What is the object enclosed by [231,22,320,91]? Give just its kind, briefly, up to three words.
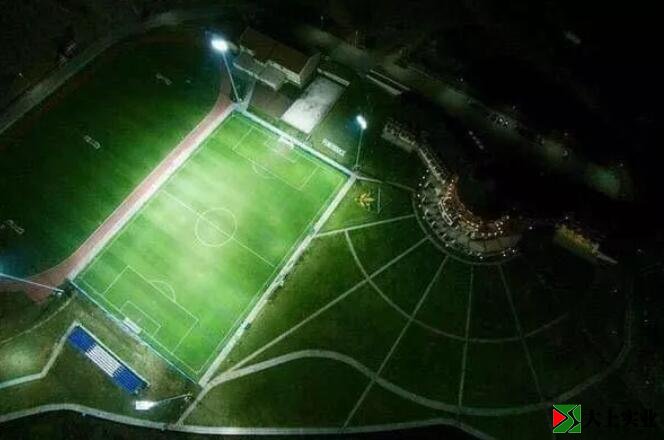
building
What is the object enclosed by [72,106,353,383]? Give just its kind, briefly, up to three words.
soccer field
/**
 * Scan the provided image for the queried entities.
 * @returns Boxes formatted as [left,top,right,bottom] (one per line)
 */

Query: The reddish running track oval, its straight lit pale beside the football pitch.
[0,32,237,305]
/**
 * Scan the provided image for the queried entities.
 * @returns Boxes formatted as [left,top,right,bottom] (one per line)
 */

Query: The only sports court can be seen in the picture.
[281,77,346,135]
